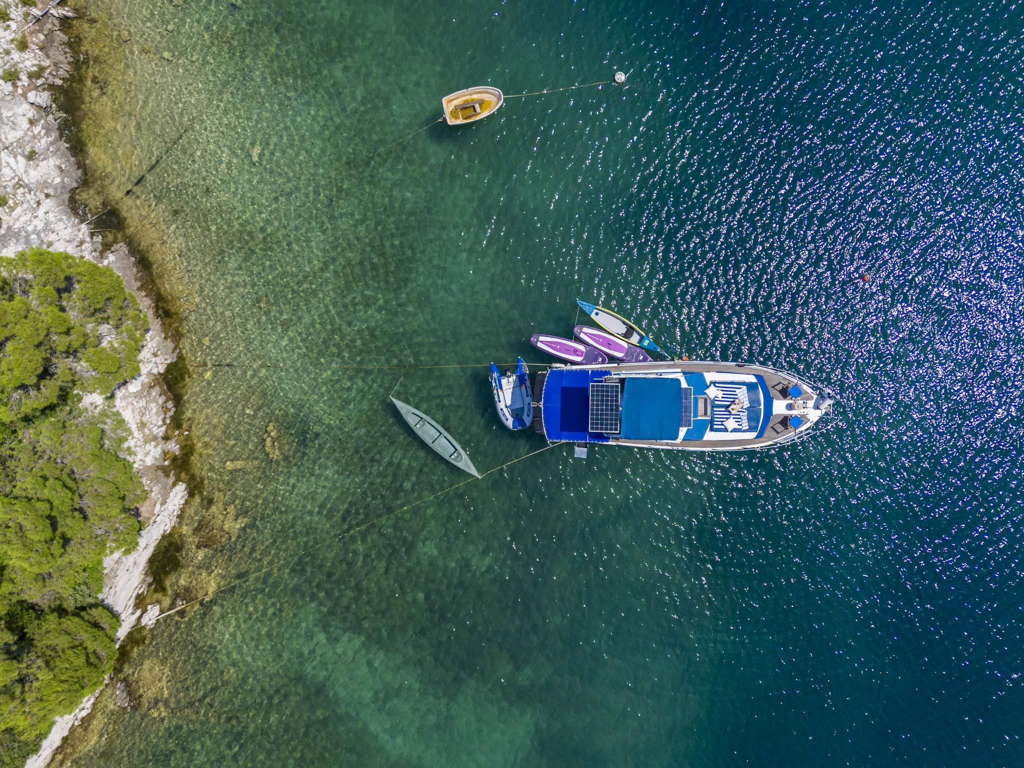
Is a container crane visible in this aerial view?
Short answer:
No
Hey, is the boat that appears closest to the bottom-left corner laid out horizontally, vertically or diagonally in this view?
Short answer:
diagonally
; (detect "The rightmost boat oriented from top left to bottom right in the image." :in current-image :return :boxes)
[576,301,672,359]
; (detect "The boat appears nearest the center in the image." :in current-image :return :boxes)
[490,357,533,430]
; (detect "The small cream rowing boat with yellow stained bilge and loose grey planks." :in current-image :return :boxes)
[442,86,504,127]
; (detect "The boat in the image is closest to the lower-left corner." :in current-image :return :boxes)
[390,397,481,479]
